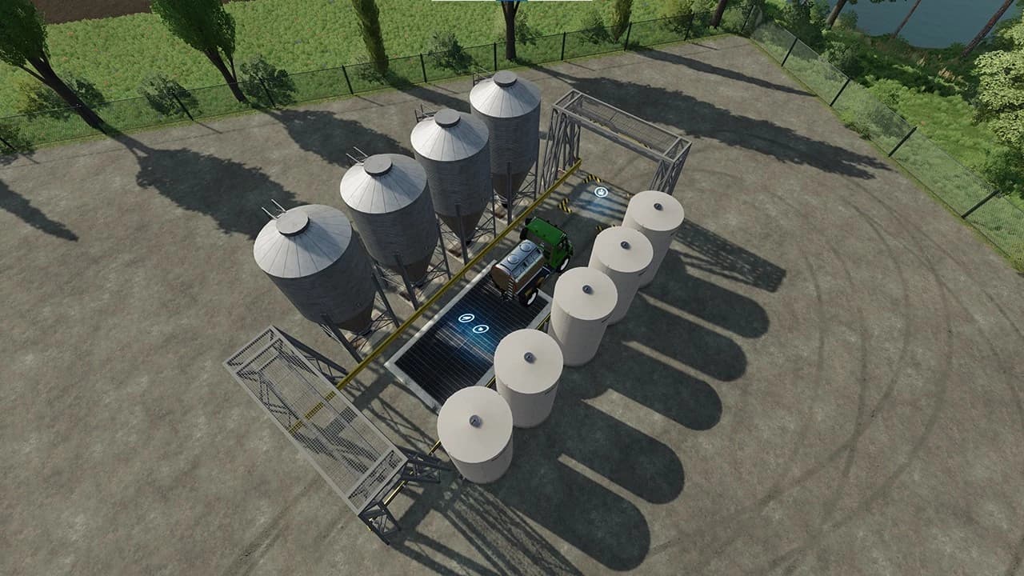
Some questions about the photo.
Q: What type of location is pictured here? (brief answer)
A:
industrial area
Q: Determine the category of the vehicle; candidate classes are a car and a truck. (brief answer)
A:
truck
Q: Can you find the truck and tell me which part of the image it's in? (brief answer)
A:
center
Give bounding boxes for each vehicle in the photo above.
[486,214,575,309]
